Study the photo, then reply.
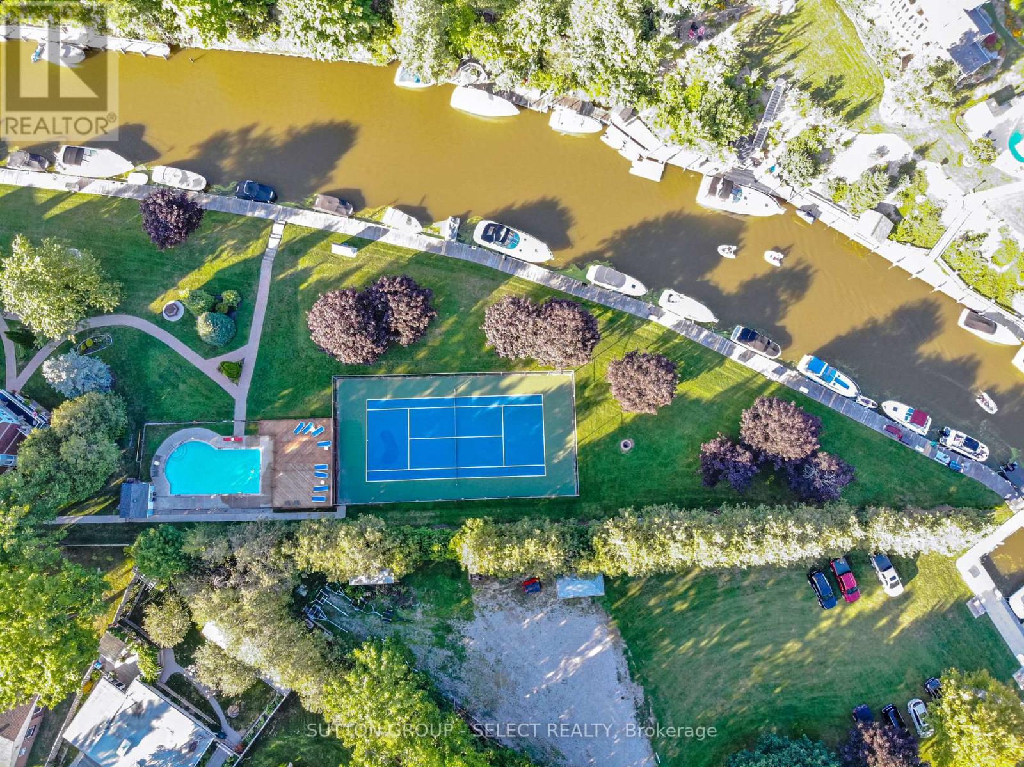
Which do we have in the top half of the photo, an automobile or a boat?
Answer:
boat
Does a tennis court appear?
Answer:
Yes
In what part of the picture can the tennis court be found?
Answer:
center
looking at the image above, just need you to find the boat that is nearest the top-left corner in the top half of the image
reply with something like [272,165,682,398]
[39,44,87,66]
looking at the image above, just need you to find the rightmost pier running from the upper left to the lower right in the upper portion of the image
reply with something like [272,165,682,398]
[782,183,1024,341]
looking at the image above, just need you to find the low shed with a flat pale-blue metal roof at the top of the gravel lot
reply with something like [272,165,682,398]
[555,572,604,599]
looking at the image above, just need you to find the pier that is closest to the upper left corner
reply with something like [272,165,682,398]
[0,27,171,59]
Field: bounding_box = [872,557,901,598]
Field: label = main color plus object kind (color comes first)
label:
white truck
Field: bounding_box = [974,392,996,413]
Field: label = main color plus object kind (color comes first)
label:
white boat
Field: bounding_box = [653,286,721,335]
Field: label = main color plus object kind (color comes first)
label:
white boat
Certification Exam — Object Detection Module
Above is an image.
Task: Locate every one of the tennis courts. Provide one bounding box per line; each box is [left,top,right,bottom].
[337,374,576,503]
